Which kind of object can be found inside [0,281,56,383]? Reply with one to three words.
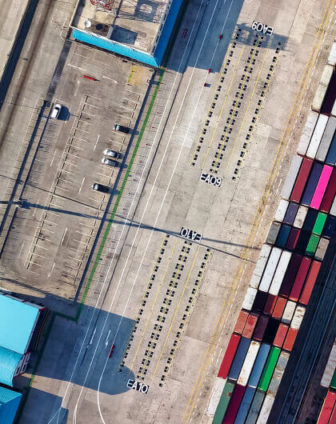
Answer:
building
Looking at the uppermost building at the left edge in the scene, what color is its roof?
blue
